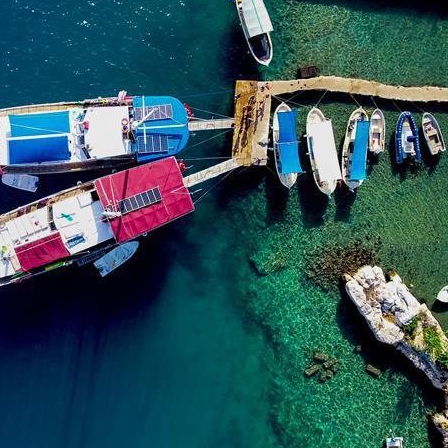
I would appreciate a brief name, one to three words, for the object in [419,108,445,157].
boat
